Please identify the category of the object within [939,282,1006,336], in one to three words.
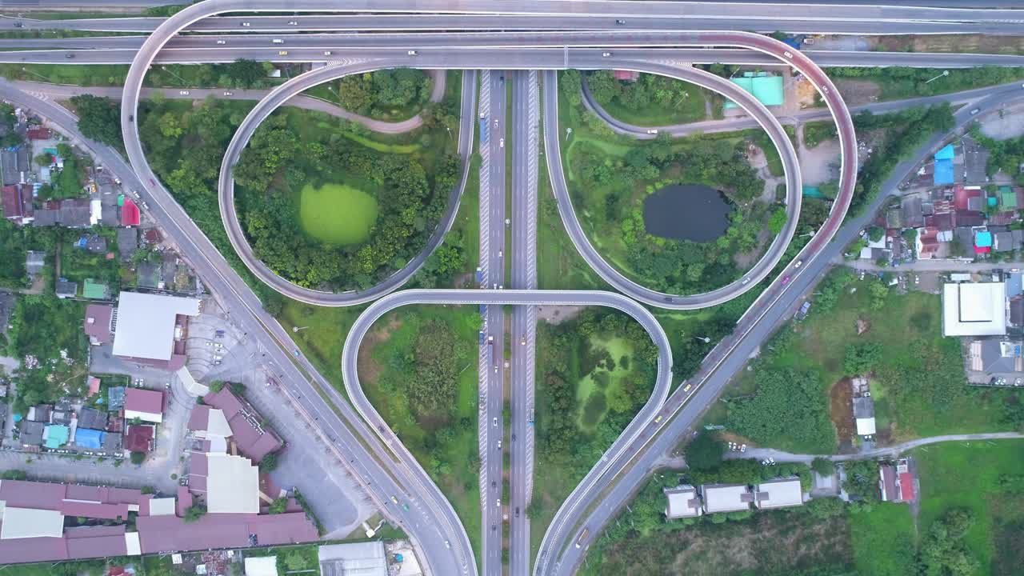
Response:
building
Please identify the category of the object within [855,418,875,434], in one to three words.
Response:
house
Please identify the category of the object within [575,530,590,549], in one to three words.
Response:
vehicle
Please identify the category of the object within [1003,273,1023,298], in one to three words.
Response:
house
